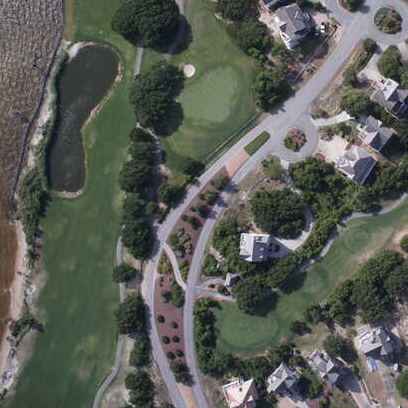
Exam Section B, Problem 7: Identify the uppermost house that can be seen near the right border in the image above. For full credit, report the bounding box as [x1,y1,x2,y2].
[369,74,408,122]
